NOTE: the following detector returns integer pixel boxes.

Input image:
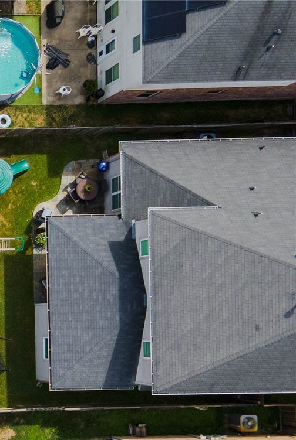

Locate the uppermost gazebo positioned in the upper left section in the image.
[45,45,69,68]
